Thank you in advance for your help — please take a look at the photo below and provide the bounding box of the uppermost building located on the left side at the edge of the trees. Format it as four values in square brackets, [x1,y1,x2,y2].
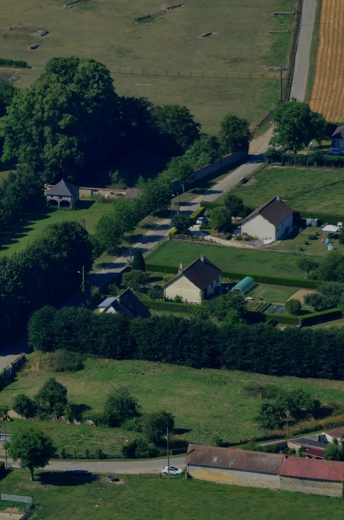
[45,178,78,208]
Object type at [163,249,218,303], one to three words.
house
